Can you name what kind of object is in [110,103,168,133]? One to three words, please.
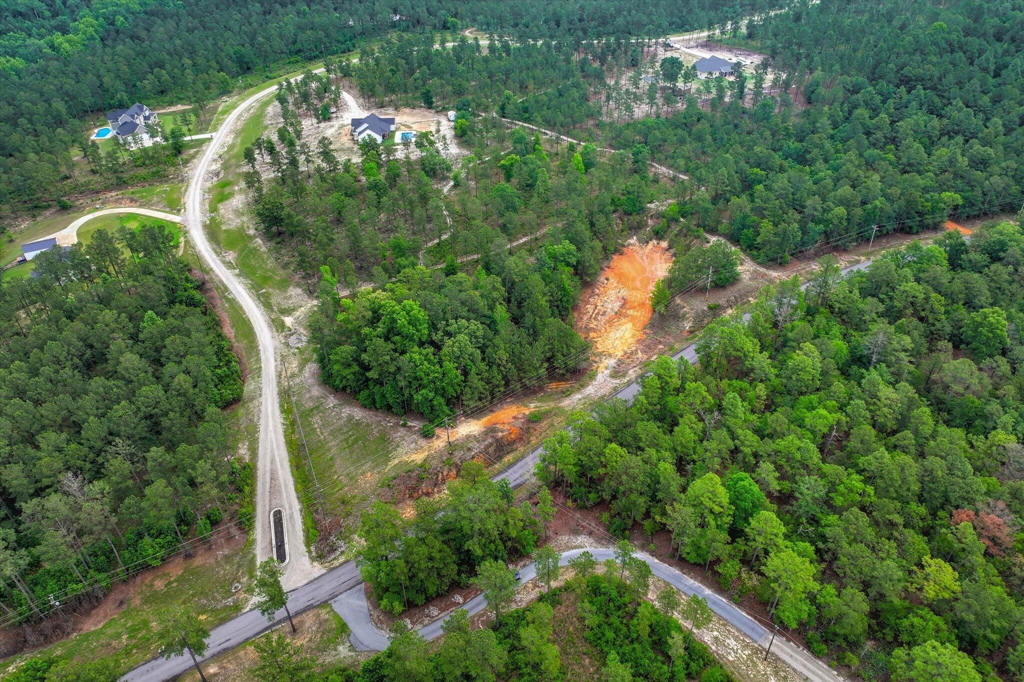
house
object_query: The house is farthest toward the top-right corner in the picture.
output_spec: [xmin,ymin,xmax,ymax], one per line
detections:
[681,57,735,80]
